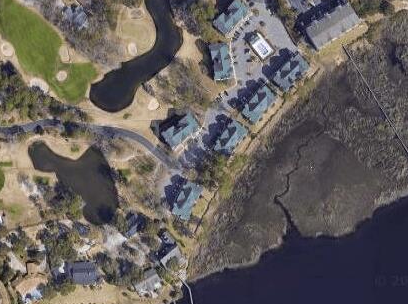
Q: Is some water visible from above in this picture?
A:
Yes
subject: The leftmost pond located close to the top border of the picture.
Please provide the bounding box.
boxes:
[90,0,182,112]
